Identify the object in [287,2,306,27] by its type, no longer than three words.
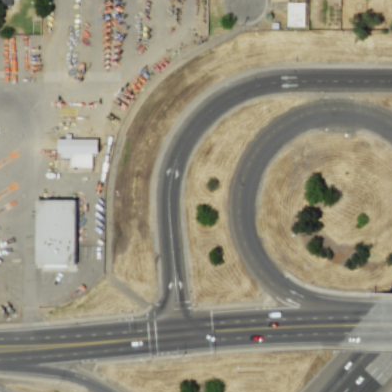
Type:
building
